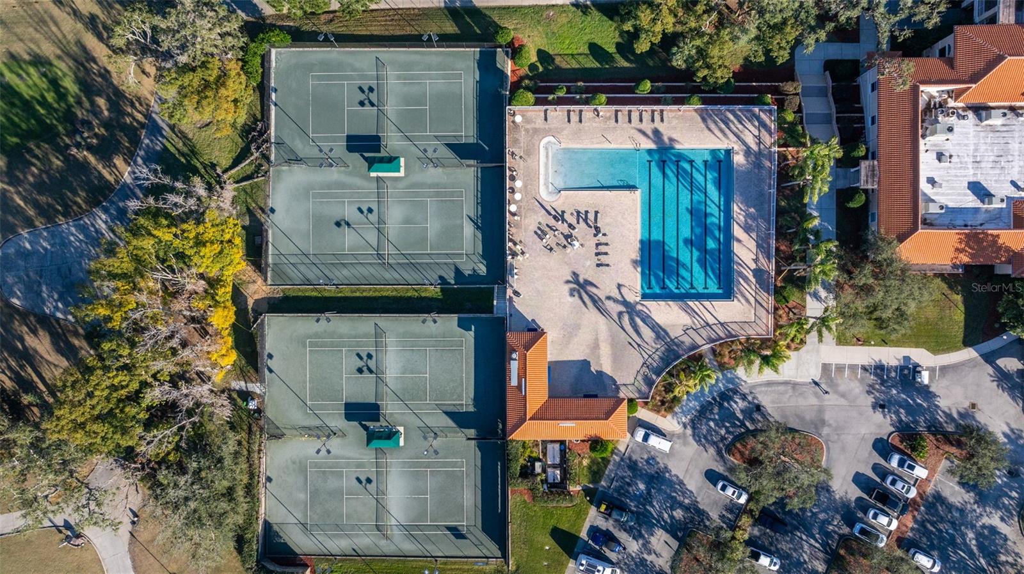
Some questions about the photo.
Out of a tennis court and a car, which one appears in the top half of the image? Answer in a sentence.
It is a tennis court that can be seen in the top half of the image.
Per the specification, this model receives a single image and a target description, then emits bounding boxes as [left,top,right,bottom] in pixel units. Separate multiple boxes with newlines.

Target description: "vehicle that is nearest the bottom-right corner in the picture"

[908,549,940,573]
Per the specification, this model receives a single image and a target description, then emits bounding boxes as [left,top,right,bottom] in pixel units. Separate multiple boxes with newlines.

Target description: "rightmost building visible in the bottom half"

[506,327,628,441]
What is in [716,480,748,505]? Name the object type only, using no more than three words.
car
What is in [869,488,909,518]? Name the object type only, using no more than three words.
truck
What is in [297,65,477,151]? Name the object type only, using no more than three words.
tennis court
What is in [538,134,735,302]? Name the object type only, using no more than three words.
swimming pool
